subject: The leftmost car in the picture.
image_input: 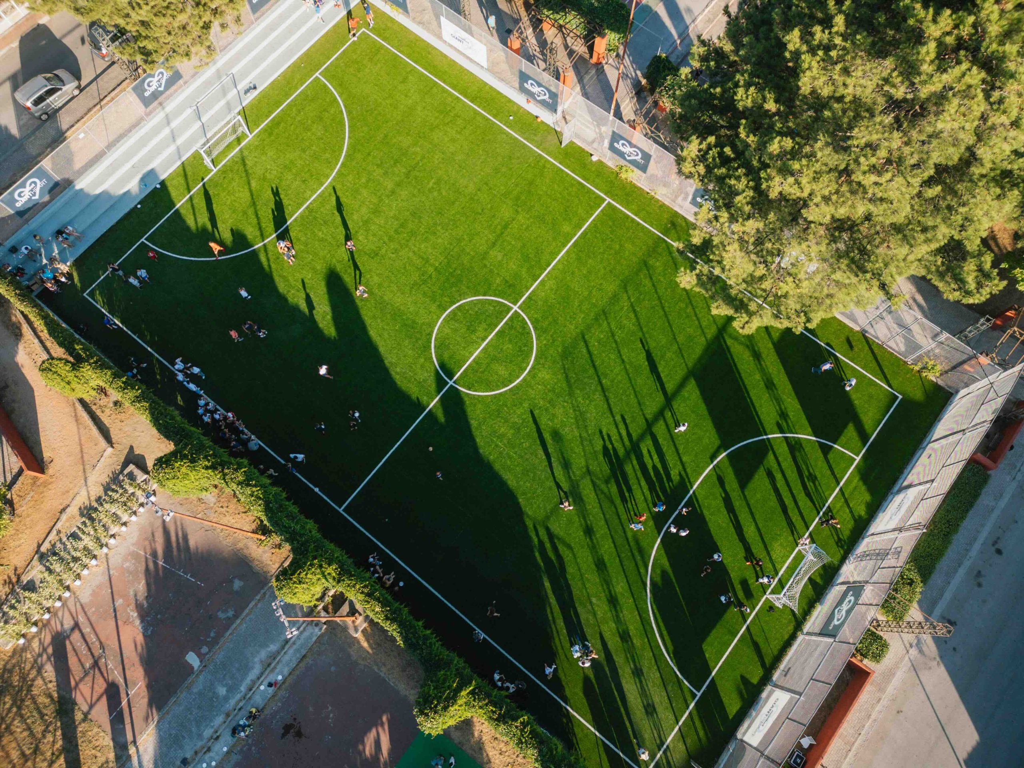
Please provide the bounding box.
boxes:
[13,70,78,123]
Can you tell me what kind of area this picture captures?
sports ground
